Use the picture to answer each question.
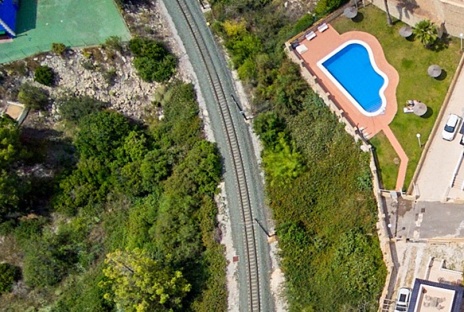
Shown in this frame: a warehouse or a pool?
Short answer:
pool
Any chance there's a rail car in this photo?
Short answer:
No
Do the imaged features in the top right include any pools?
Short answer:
Yes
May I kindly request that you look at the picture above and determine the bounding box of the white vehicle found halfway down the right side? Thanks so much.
[442,111,461,139]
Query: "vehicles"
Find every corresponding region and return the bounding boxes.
[442,111,461,139]
[393,286,411,312]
